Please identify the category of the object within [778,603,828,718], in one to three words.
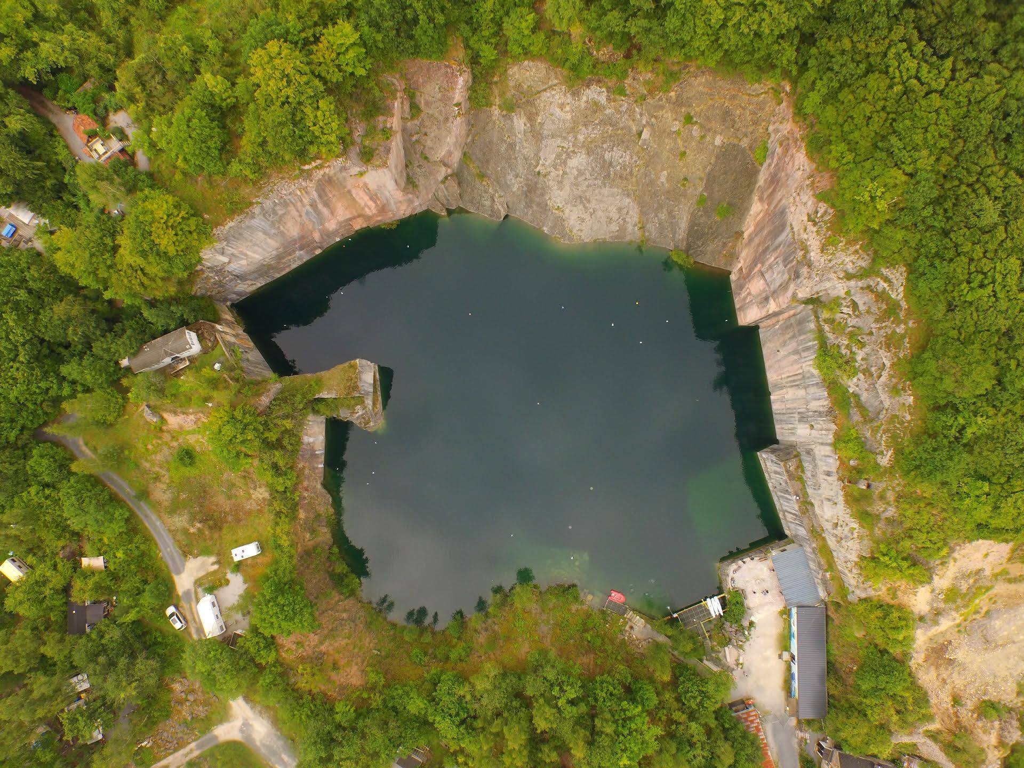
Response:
building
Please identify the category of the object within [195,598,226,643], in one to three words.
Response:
camper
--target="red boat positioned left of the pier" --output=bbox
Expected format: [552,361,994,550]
[609,590,626,602]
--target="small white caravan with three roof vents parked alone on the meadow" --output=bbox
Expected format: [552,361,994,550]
[229,544,260,566]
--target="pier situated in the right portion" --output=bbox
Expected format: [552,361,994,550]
[661,592,728,650]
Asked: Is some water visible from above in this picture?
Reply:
Yes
